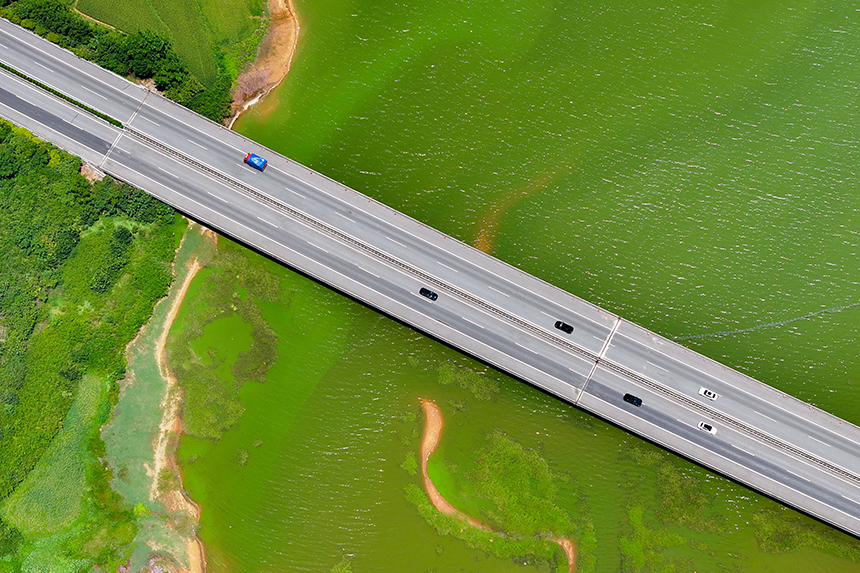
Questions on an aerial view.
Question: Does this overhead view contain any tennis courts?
No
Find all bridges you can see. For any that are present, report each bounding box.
[98,88,860,534]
